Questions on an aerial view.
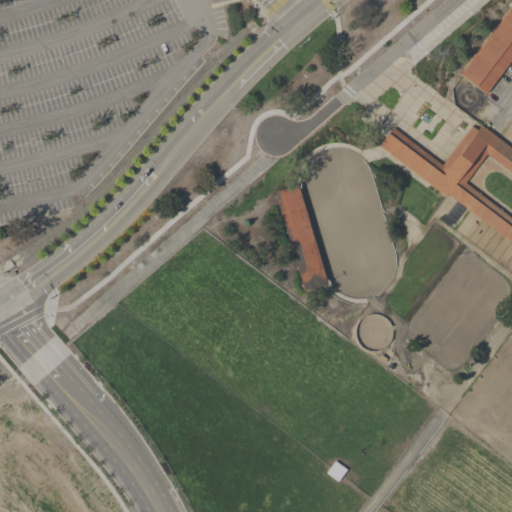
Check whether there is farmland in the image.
Yes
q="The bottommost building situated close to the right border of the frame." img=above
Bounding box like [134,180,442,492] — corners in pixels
[384,126,512,240]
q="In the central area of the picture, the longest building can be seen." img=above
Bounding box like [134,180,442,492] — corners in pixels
[280,188,328,291]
